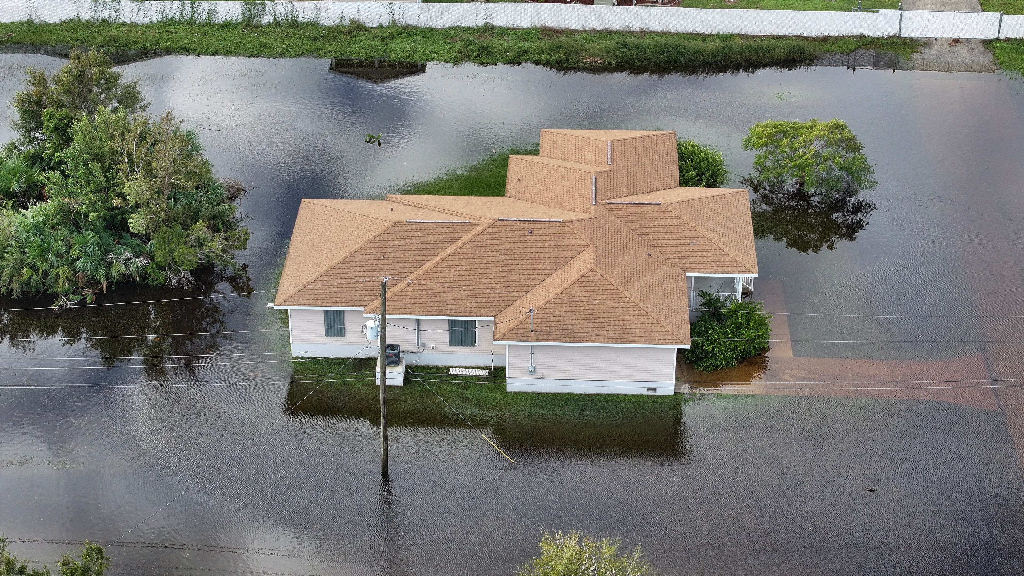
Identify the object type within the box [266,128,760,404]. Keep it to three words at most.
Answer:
house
